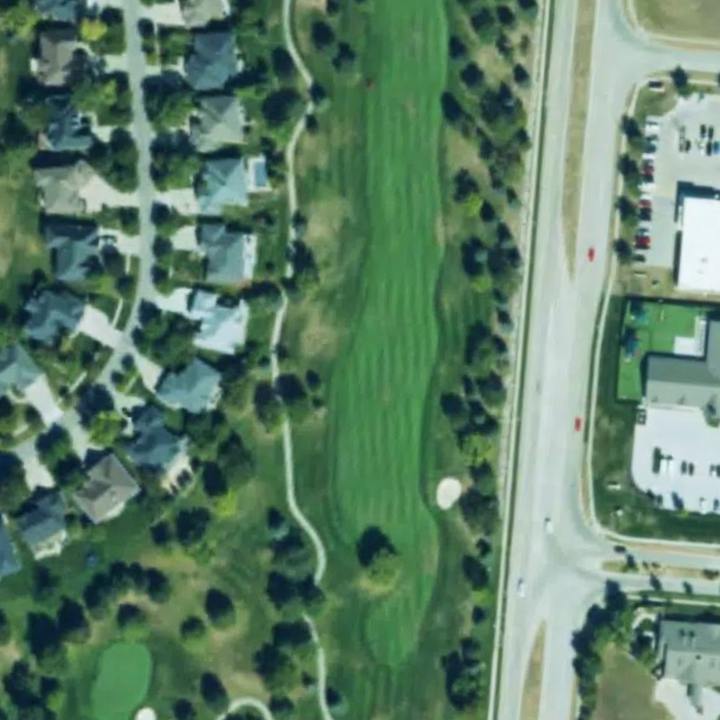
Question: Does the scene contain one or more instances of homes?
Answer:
Yes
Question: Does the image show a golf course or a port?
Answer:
golf course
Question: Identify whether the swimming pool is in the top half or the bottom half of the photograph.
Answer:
top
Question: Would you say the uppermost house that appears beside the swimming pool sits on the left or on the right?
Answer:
left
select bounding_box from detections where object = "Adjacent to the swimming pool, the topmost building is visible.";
[190,100,243,149]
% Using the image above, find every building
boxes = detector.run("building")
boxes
[0,345,44,402]
[190,290,246,353]
[195,159,248,213]
[190,100,243,149]
[46,106,92,153]
[179,0,226,24]
[13,488,68,540]
[45,224,100,280]
[159,360,221,414]
[676,197,720,292]
[199,222,249,283]
[38,162,104,217]
[38,31,83,86]
[20,288,86,348]
[122,408,186,472]
[74,459,139,522]
[647,317,720,422]
[184,32,237,93]
[0,516,19,570]
[660,621,720,715]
